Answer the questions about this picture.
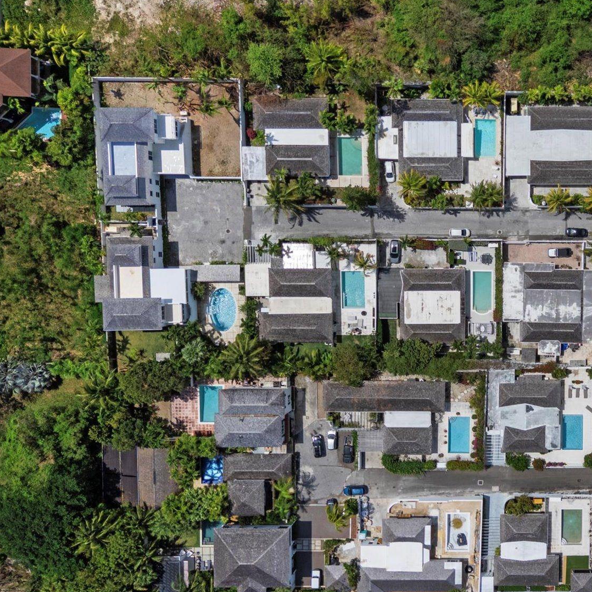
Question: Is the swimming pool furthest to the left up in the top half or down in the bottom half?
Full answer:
The swimming pool furthest to the left is in the top half of the image.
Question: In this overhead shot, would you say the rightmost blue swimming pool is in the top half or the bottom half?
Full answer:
The bottom half of the photo is where the rightmost blue swimming pool is.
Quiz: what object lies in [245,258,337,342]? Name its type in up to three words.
house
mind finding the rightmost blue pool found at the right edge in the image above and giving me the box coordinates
[561,414,584,451]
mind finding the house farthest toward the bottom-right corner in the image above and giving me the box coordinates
[571,569,592,592]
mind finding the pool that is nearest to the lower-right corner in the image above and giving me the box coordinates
[561,509,584,545]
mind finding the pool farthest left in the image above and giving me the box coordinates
[20,106,61,137]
